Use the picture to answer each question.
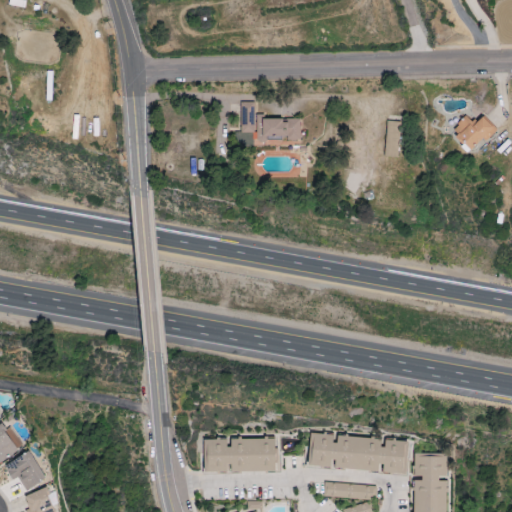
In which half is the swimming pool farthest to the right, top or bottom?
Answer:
top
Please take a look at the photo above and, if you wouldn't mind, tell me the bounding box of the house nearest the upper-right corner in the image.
[454,108,498,152]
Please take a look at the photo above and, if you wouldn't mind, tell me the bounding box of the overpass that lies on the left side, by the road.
[130,190,168,362]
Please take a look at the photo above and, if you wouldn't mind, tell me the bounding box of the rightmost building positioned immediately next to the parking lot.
[415,454,450,512]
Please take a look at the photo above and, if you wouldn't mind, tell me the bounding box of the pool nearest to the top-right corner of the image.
[432,94,474,136]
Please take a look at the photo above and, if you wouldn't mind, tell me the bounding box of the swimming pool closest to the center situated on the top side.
[250,142,302,177]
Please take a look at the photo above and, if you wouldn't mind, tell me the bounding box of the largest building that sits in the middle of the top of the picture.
[256,112,302,142]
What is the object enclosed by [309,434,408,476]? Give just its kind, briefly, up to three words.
building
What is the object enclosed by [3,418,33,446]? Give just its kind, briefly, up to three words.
swimming pool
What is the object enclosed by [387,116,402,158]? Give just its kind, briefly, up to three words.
barn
